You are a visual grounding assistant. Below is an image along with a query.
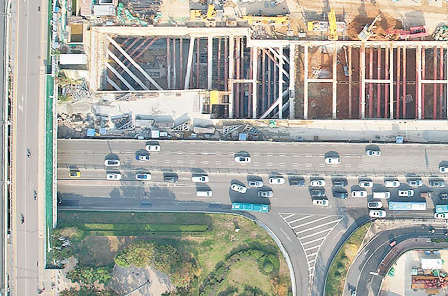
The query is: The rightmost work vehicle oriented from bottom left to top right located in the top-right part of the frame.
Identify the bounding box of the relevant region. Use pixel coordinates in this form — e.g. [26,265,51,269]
[354,14,381,43]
